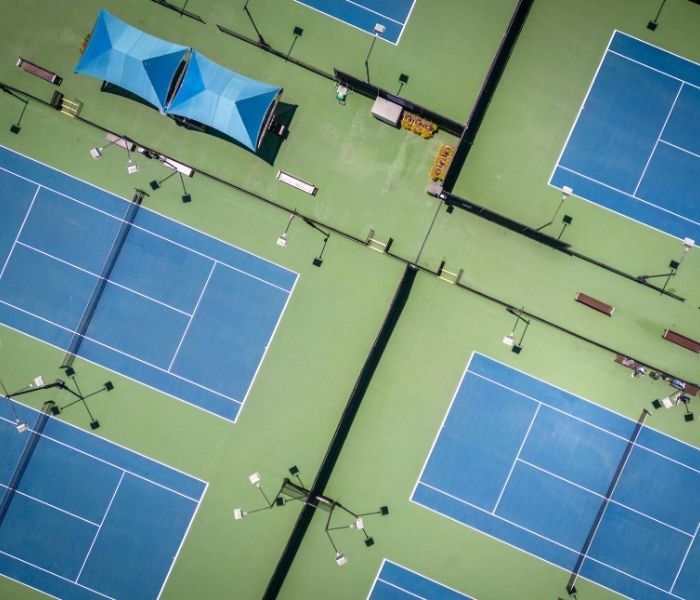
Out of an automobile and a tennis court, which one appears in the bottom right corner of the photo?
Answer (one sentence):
The feature located in the bottom right corner of the photo is a tennis court.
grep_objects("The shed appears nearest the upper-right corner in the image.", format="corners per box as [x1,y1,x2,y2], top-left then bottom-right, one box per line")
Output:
[371,97,403,126]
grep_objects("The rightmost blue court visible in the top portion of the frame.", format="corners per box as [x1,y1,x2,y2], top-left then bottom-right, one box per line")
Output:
[549,31,700,247]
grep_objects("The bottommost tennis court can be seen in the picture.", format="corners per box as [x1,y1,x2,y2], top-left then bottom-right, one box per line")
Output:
[368,560,477,600]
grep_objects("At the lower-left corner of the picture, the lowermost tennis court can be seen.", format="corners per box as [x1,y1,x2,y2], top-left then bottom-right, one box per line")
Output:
[0,394,206,600]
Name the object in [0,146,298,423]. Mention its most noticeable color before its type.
blue tennis court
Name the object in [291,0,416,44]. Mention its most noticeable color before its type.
blue tennis court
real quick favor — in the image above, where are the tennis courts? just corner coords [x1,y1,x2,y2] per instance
[291,0,416,44]
[549,31,700,247]
[0,394,206,600]
[0,146,298,423]
[368,560,477,600]
[409,351,700,600]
